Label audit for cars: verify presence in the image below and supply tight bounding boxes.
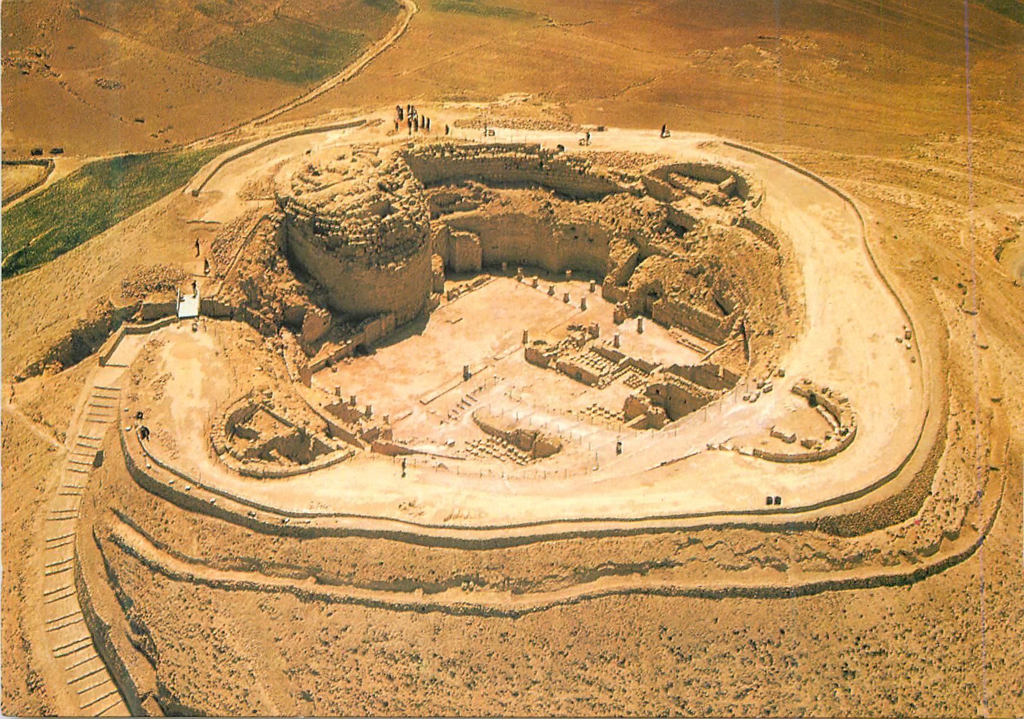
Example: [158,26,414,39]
[48,146,63,156]
[29,147,44,156]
